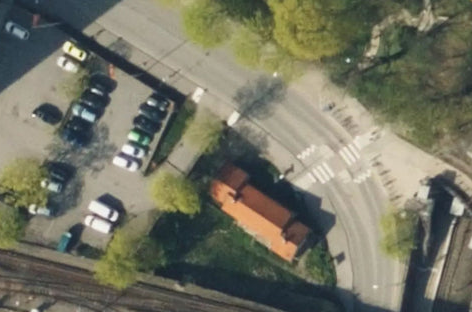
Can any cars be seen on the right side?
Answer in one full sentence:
No, the scene shows no car on the right side.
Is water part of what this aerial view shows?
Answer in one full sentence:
No, water can't be seen anywhere here.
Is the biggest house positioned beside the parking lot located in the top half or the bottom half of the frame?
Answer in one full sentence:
It is in the bottom half that the biggest house positioned beside the parking lot appears.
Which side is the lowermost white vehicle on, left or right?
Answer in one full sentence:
It is on the left.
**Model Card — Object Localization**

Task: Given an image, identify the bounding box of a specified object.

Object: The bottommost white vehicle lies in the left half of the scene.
[83,215,111,235]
